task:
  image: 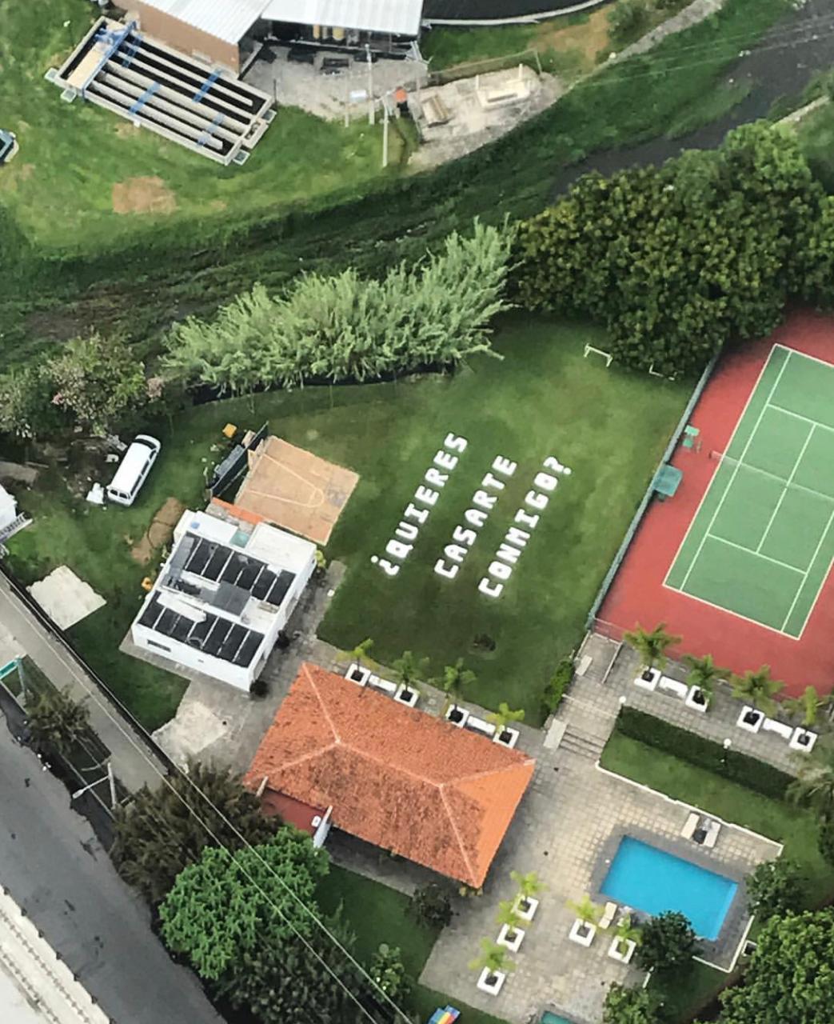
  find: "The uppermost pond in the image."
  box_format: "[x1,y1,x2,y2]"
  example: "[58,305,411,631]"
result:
[425,0,611,25]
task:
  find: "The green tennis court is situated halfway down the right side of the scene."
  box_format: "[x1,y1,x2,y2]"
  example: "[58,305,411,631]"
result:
[593,257,834,730]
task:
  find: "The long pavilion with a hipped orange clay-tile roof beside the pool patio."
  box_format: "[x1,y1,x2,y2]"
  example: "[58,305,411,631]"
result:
[241,660,537,889]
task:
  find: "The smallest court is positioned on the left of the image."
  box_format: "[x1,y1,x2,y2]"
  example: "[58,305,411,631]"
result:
[234,436,359,544]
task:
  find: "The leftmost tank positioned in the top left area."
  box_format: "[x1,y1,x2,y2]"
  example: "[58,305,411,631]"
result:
[42,15,284,172]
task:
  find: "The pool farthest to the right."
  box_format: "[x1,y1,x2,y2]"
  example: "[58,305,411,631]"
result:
[587,821,751,954]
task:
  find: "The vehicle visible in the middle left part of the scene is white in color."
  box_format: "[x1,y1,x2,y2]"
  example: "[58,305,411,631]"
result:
[106,443,155,511]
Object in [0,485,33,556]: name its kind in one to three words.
building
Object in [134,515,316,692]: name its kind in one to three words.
house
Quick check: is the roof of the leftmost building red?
No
